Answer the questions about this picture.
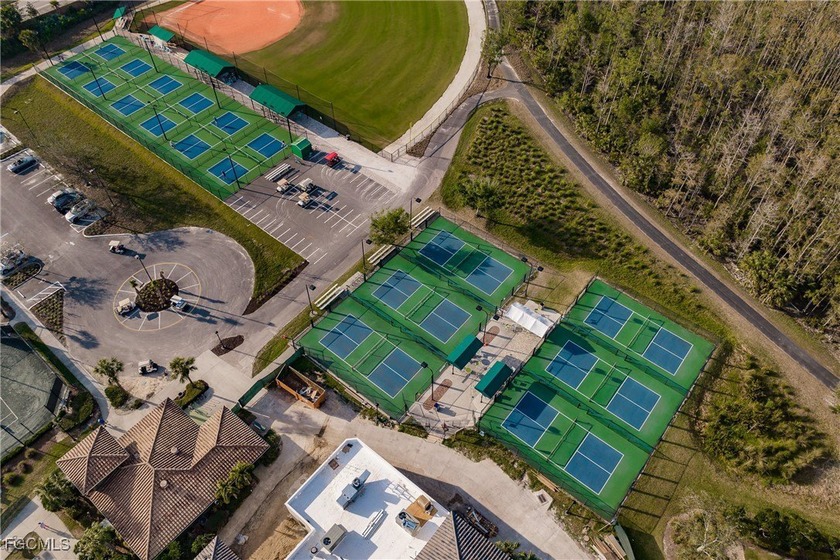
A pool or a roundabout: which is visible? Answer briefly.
roundabout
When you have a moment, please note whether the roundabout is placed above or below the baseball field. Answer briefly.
below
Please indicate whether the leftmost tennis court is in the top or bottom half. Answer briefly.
bottom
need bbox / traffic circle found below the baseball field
[113,262,202,331]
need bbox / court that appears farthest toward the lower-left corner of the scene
[0,313,60,461]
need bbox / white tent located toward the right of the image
[503,294,559,346]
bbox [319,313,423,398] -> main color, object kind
blue sports court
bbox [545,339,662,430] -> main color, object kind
blue sports court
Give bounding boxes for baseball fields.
[91,0,486,160]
